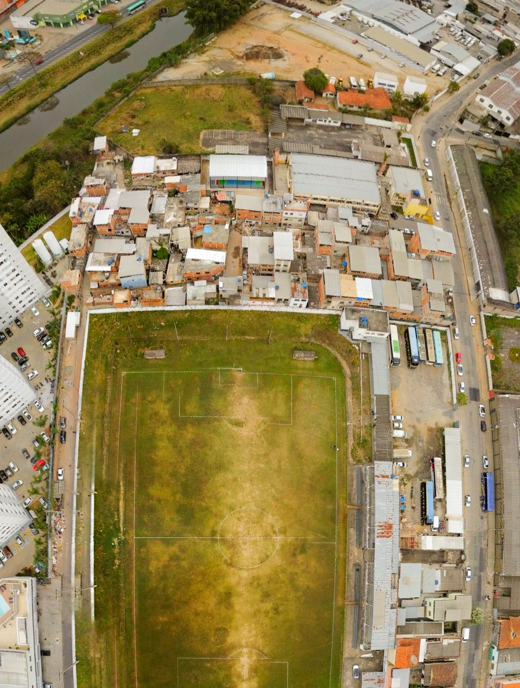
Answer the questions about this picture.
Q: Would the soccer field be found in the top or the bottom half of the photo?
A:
bottom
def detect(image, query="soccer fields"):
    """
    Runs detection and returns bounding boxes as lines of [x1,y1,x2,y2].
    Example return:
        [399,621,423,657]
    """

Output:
[111,366,347,688]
